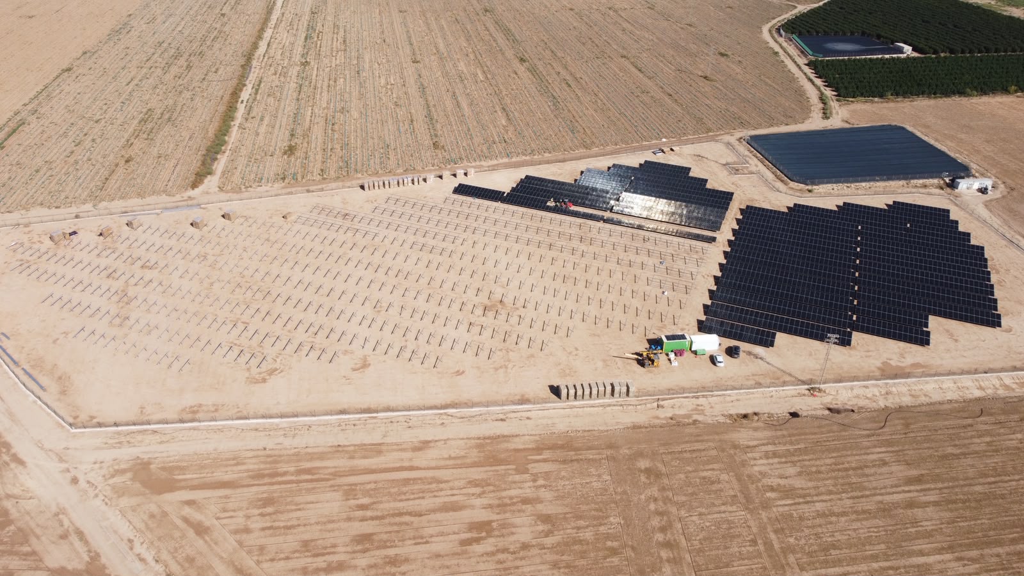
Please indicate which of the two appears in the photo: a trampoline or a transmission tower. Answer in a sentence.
Of the two, only a transmission tower appears.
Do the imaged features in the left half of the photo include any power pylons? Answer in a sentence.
No, I can find no power pylon in the left half of the photo.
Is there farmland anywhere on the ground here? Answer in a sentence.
Yes, there is farmland in the image.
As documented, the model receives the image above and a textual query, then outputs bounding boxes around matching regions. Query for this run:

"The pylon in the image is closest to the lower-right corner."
[815,335,842,389]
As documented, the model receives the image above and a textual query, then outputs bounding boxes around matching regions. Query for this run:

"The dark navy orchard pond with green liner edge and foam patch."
[789,35,907,61]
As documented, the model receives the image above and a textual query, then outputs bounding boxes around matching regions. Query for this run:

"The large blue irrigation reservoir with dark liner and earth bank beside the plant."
[737,124,978,192]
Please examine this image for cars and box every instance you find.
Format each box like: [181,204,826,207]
[711,352,724,367]
[730,342,742,359]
